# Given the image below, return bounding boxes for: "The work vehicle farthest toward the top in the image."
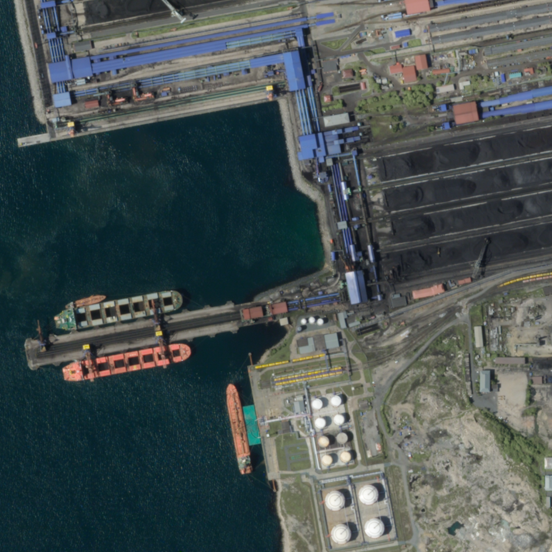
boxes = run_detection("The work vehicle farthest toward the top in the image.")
[162,0,186,23]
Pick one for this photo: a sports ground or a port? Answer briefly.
port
